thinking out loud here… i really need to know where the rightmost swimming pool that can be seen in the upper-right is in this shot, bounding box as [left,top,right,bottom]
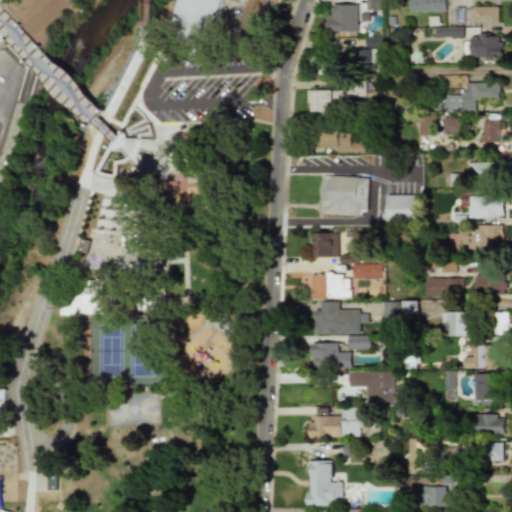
[436,42,454,62]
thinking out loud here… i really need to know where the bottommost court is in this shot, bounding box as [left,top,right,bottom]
[108,394,162,424]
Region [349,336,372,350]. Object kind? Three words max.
building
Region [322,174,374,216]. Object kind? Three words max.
building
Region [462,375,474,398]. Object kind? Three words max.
swimming pool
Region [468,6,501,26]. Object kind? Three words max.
house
